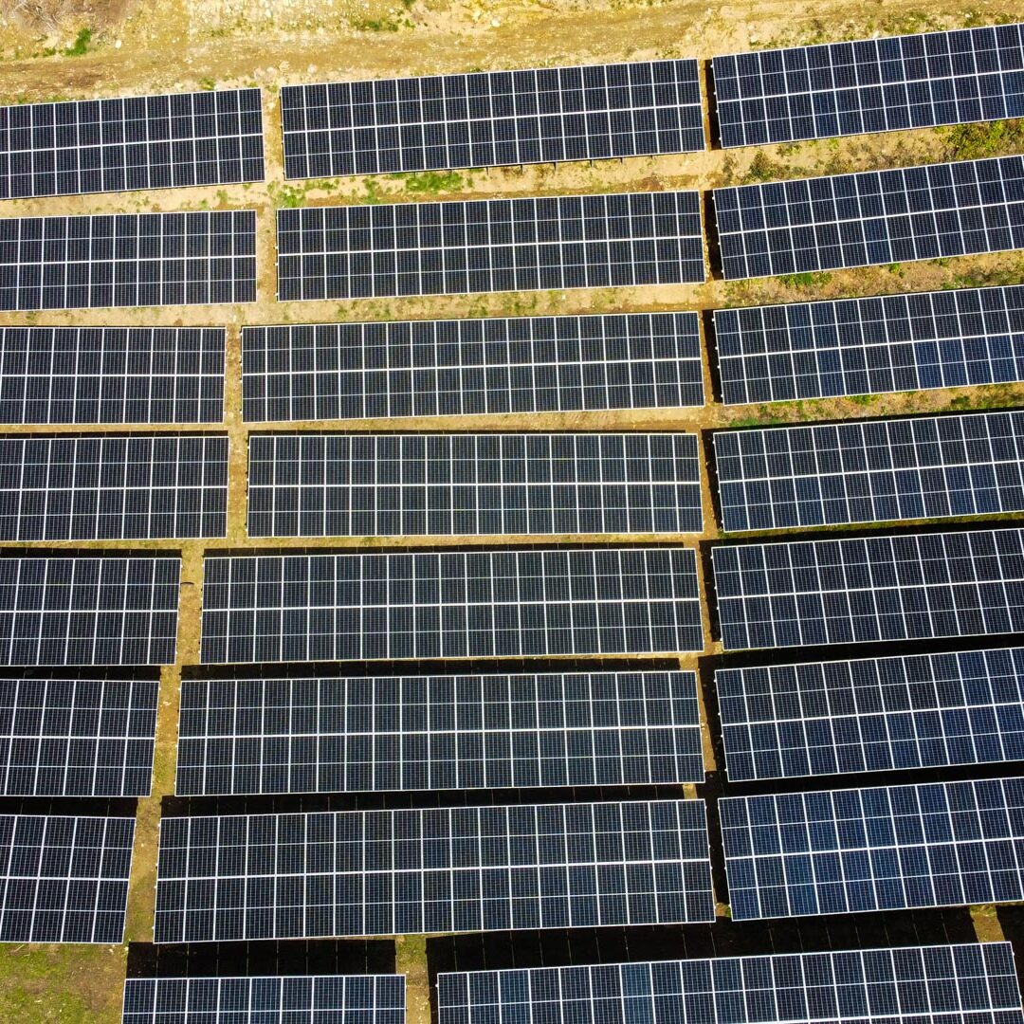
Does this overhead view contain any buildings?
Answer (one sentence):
No, the photo shows no building.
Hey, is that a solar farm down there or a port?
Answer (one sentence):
The area seen from above is a solar farm.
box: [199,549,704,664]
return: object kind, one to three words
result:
solar array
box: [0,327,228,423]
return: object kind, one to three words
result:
solar array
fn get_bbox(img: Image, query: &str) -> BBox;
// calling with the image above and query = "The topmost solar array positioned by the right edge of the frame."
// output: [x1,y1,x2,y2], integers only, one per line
[712,23,1024,148]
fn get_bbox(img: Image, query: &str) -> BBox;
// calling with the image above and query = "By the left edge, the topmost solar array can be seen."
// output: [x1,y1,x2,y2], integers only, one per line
[0,88,265,199]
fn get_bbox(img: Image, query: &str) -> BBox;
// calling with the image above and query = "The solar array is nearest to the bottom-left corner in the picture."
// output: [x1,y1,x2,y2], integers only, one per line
[0,815,137,942]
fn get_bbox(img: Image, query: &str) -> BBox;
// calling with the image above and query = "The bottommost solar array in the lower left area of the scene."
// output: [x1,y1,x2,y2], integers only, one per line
[123,975,407,1024]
